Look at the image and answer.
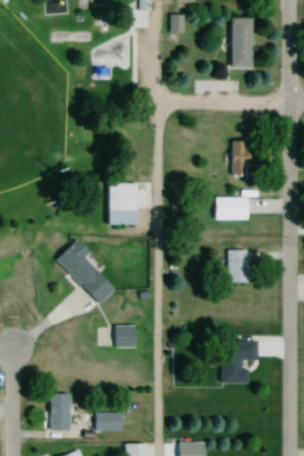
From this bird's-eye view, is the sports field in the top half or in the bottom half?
top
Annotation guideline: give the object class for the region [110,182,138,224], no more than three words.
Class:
barn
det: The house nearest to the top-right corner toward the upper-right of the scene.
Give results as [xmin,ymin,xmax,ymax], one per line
[232,18,254,67]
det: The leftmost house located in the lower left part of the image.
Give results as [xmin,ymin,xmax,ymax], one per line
[43,392,71,429]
